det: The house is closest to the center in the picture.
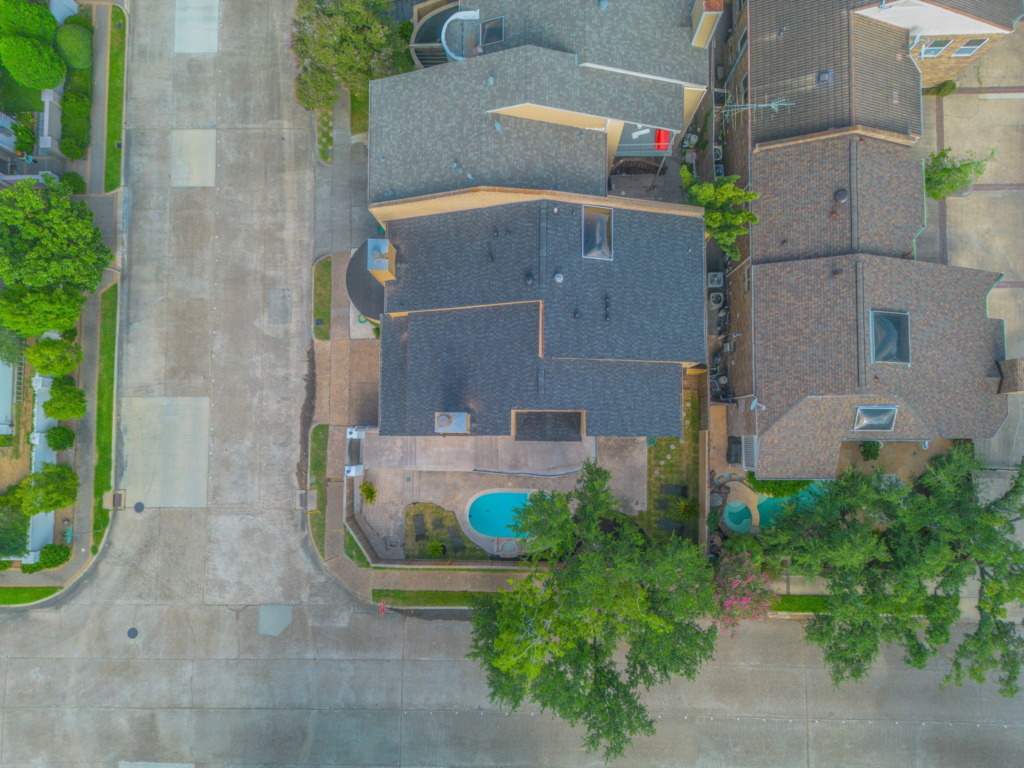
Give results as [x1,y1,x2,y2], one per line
[346,180,708,442]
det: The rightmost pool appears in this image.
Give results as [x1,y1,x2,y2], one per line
[755,485,833,536]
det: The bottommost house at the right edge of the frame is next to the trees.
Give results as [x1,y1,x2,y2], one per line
[733,255,1024,485]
